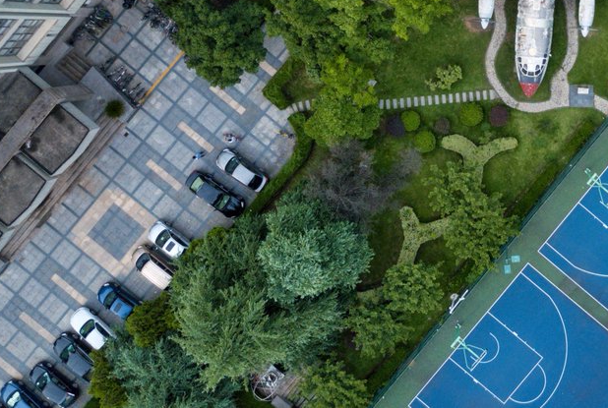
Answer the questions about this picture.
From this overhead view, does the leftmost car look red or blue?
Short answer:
blue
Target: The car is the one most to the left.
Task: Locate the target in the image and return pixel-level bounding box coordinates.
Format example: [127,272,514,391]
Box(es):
[0,379,51,408]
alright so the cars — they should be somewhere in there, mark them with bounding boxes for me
[95,278,149,330]
[68,305,123,358]
[129,244,182,299]
[0,379,51,408]
[30,361,83,408]
[213,145,269,197]
[51,332,104,385]
[187,168,245,219]
[144,218,197,269]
